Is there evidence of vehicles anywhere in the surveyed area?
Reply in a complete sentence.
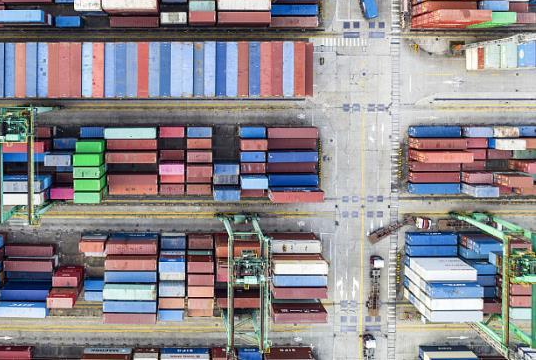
Yes, the photo shows a vehicle.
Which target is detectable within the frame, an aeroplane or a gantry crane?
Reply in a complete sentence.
It is a gantry crane that can be seen here.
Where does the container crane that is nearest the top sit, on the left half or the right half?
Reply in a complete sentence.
The container crane that is nearest the top sits on the left side.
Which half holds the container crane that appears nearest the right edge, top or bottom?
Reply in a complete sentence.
The container crane that appears nearest the right edge sits in the bottom half of the picture.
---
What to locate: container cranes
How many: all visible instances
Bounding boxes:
[445,216,536,359]
[0,105,69,227]
[214,219,270,358]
